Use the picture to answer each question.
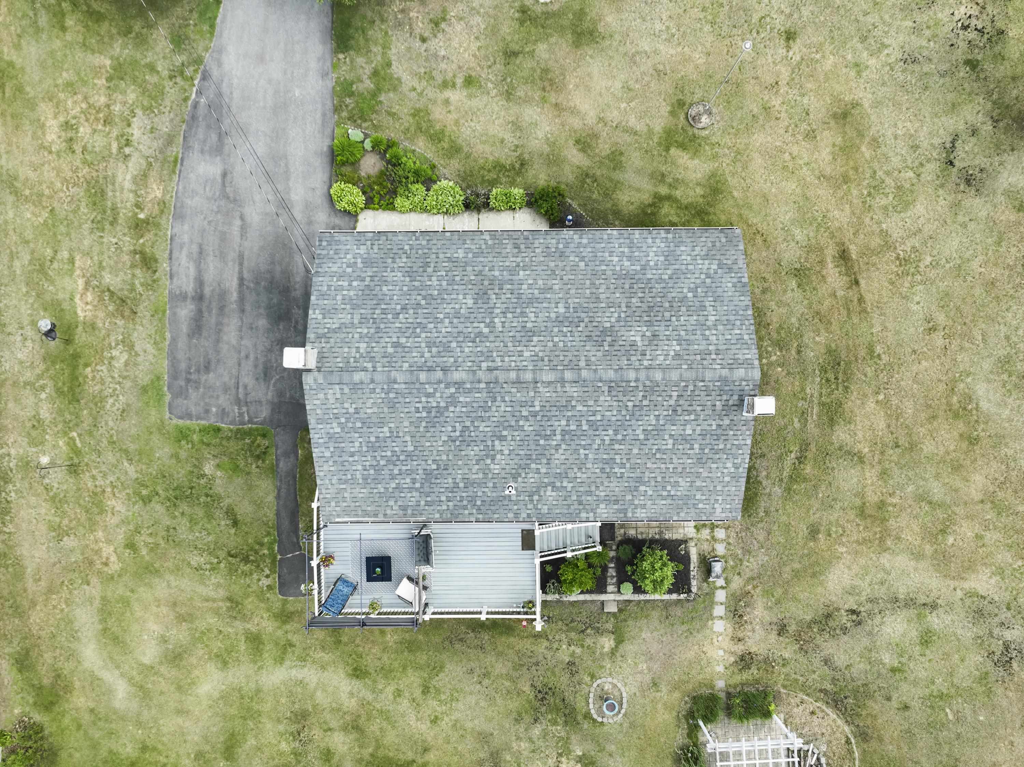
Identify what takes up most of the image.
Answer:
grass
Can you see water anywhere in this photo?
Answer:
No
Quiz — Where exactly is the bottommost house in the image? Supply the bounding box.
[283,227,775,524]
